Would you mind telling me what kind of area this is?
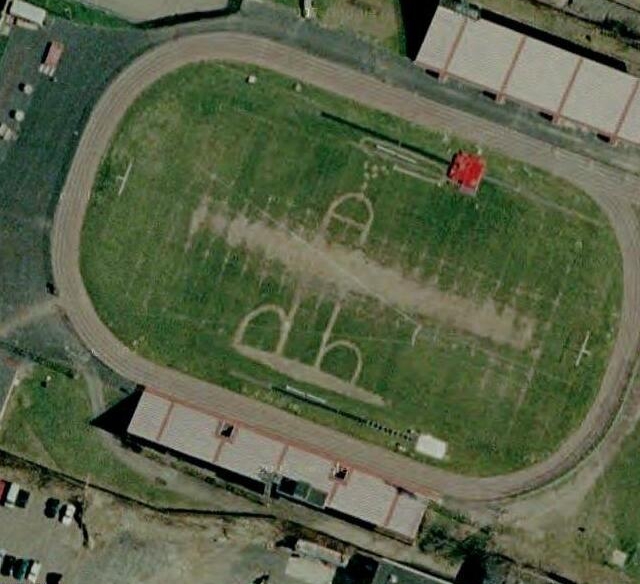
sports ground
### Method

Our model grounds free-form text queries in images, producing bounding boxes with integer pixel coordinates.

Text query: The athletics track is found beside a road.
[52,33,640,500]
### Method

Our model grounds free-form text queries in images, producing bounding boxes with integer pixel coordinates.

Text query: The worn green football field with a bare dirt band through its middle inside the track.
[81,61,624,475]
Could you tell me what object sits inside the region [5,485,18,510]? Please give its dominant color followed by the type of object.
white vehicle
